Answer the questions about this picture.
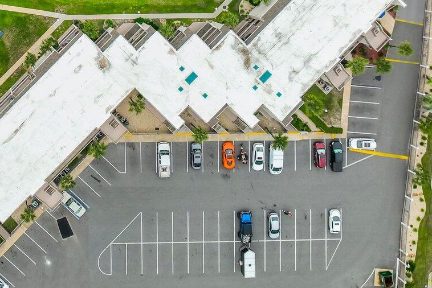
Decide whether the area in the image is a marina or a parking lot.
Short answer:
parking lot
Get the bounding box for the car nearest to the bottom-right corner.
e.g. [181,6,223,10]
[327,207,342,233]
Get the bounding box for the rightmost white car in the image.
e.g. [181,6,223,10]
[348,137,376,151]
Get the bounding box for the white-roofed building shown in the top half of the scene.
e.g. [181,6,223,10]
[0,0,406,223]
